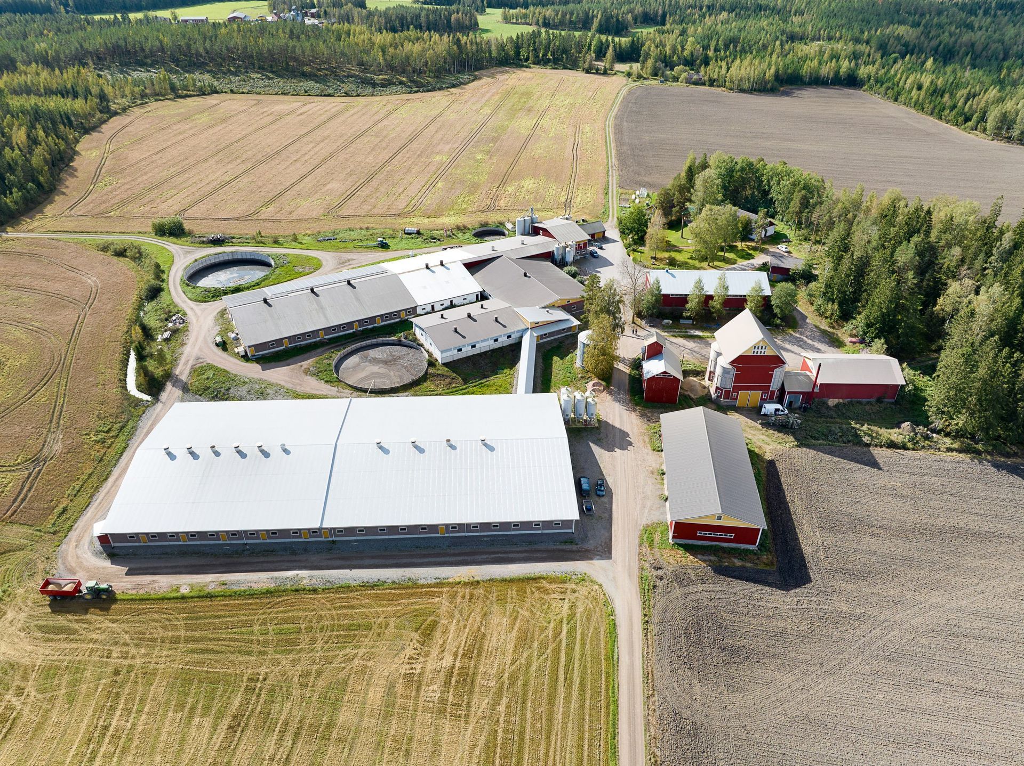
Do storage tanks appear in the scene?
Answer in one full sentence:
Yes, looking at the shot, I can spot a storage tank.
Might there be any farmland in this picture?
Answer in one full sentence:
Yes, there's farmland in this view.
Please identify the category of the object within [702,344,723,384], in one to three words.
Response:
silo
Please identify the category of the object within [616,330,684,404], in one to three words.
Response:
barn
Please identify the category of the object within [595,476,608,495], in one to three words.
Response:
vehicle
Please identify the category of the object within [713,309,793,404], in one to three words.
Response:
barn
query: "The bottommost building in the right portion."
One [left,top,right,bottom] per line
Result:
[659,406,769,550]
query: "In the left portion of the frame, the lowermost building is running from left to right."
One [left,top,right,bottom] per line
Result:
[90,393,579,548]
